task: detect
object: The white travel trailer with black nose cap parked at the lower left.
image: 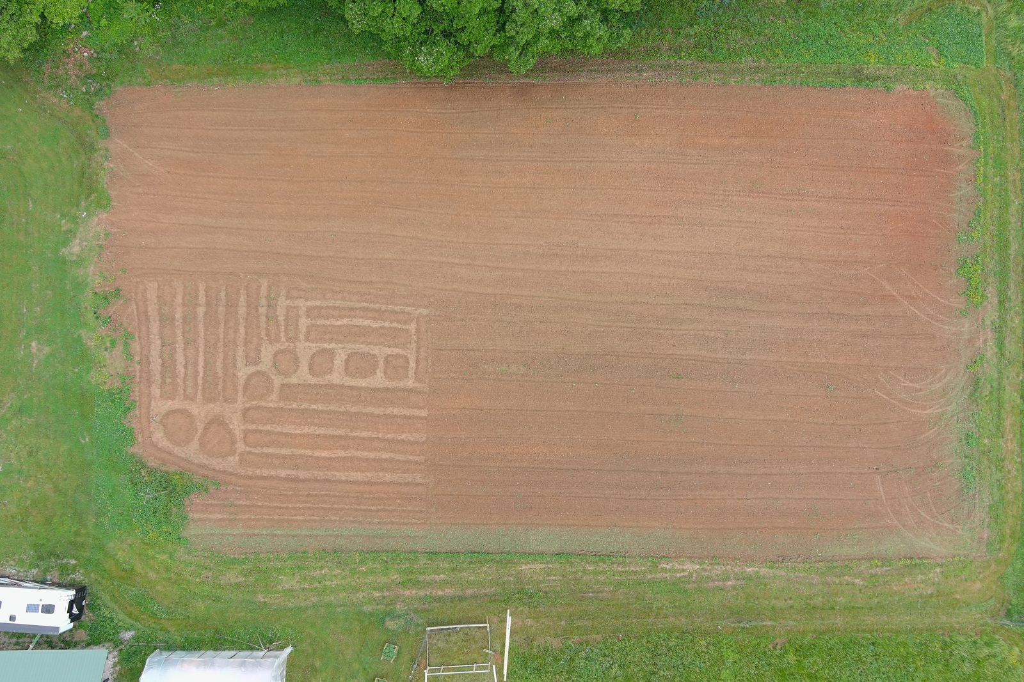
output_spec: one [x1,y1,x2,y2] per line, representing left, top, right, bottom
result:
[0,577,90,636]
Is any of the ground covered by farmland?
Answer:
Yes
